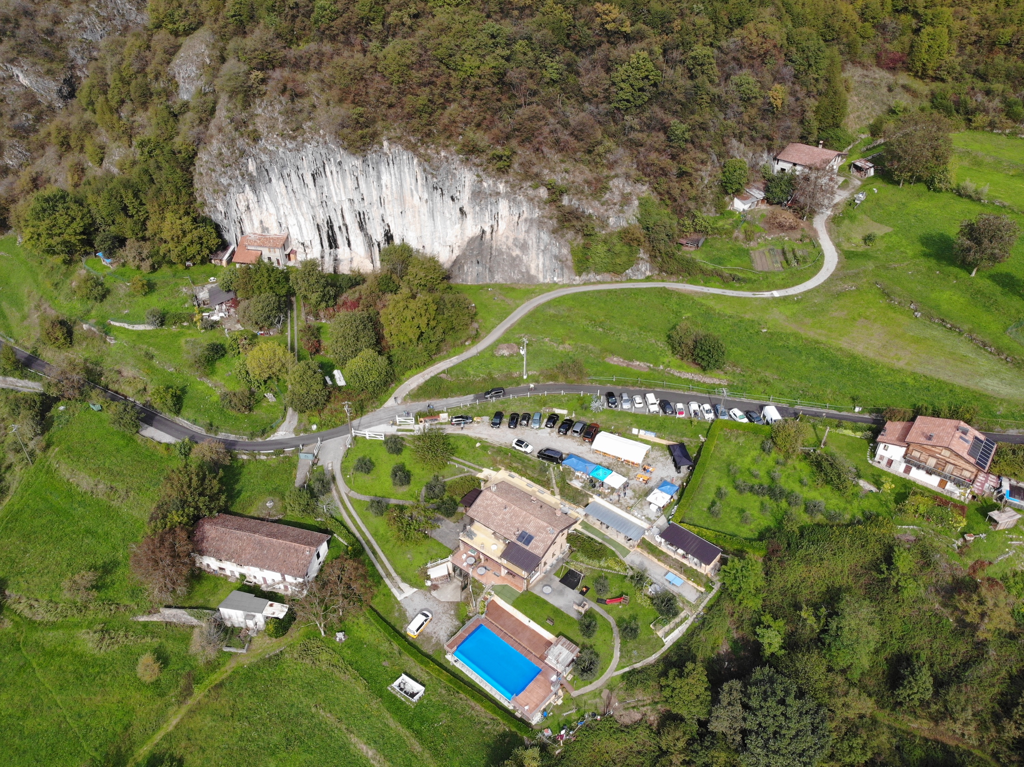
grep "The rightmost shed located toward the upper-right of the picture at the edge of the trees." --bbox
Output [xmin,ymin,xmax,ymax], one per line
[851,158,877,180]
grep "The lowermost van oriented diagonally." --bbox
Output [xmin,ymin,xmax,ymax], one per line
[403,611,432,640]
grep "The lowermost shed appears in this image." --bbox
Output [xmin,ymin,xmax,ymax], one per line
[545,636,578,674]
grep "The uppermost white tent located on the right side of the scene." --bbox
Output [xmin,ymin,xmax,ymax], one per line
[591,433,649,467]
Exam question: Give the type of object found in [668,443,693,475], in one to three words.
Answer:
tent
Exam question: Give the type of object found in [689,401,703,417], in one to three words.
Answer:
car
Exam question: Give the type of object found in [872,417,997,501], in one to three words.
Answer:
house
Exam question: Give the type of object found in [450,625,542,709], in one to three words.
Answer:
swimming pool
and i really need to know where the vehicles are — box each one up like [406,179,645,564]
[519,412,531,427]
[631,392,646,409]
[619,390,633,410]
[855,190,866,202]
[583,425,600,442]
[571,421,587,438]
[544,414,560,429]
[508,413,520,429]
[730,405,751,423]
[403,611,432,640]
[606,391,618,408]
[647,392,661,411]
[537,449,563,464]
[512,438,533,453]
[747,409,766,425]
[762,399,783,422]
[701,402,715,419]
[530,410,543,429]
[689,401,703,417]
[558,420,573,435]
[450,417,472,428]
[484,387,505,400]
[675,401,686,416]
[659,398,675,414]
[491,410,505,428]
